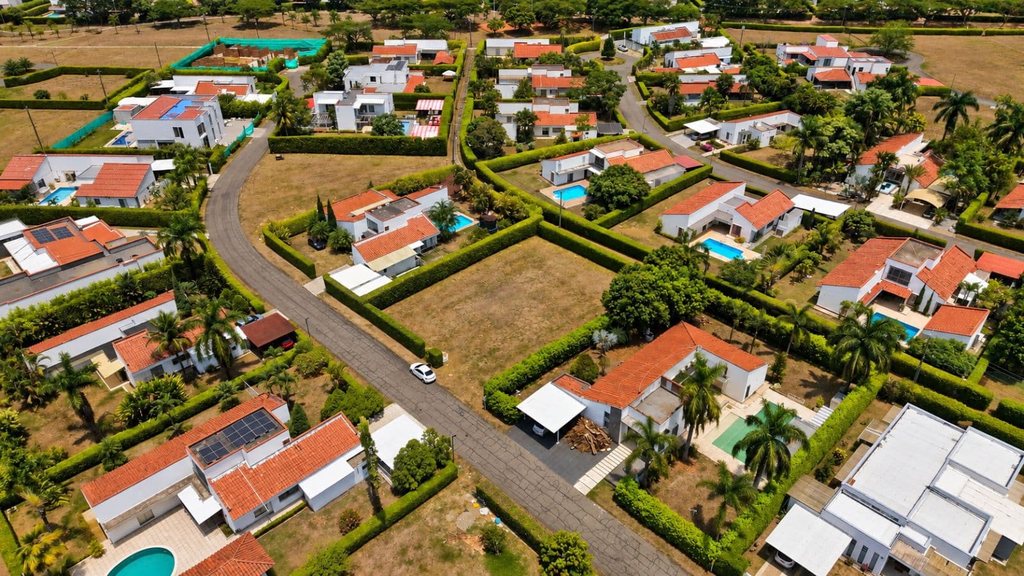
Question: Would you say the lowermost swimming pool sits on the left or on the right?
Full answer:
It is on the left.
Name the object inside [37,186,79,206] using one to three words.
swimming pool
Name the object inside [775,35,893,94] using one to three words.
house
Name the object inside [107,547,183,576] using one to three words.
swimming pool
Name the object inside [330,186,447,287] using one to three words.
house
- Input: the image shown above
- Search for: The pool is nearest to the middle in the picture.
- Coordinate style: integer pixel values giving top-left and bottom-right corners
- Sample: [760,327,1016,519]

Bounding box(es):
[431,214,476,233]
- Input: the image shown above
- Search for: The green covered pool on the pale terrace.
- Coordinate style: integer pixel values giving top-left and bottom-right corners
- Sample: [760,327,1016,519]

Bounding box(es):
[707,397,803,466]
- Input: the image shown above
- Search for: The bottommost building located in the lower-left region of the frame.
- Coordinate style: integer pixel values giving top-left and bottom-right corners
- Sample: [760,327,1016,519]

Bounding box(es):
[177,530,276,576]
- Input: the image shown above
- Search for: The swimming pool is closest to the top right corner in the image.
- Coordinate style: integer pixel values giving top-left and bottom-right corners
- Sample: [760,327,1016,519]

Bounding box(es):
[875,183,897,197]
